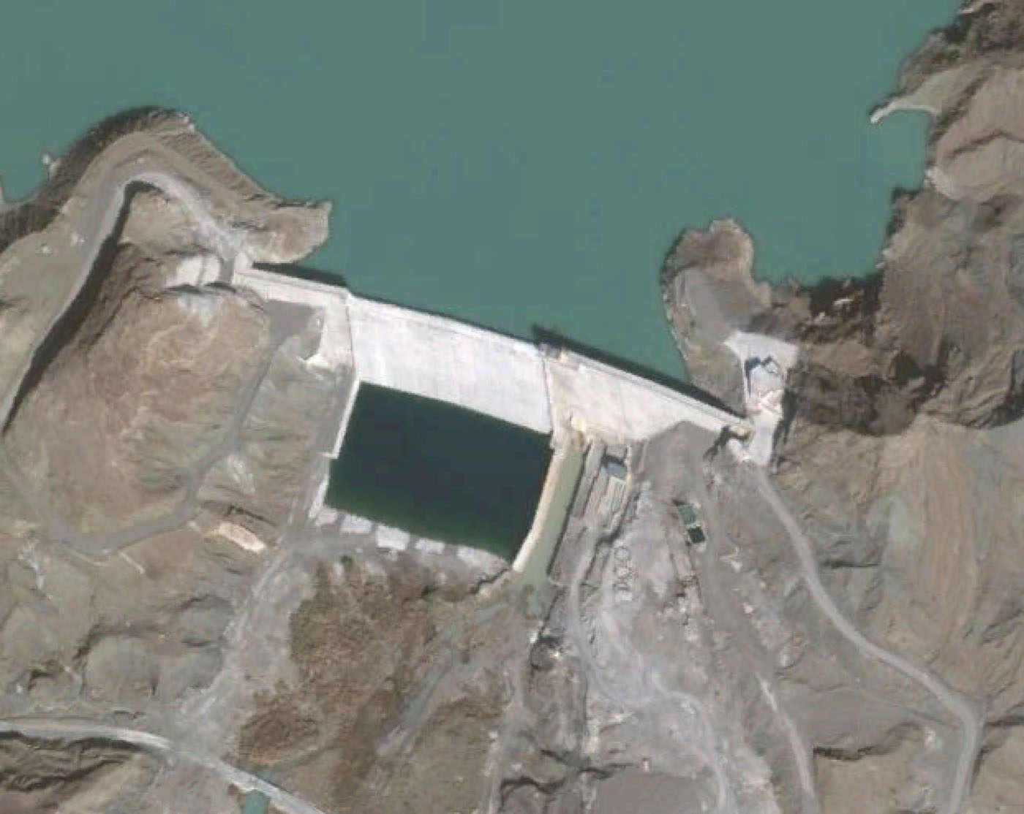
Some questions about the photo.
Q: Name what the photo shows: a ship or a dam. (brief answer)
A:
dam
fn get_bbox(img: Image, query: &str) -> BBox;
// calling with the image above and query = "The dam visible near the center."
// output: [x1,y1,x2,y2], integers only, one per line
[232,252,749,454]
